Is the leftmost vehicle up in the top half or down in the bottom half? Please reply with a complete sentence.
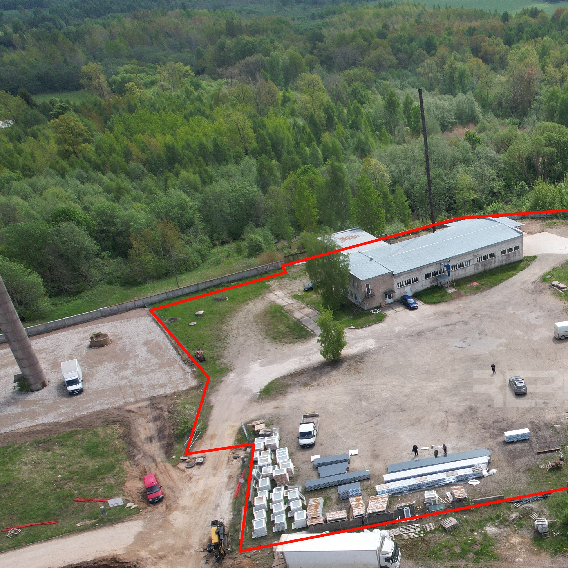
It is in the bottom half that the leftmost vehicle appears.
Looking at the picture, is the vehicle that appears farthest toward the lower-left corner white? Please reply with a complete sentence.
No, the vehicle that appears farthest toward the lower-left corner is red.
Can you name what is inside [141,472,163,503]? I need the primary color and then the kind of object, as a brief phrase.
red vehicle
